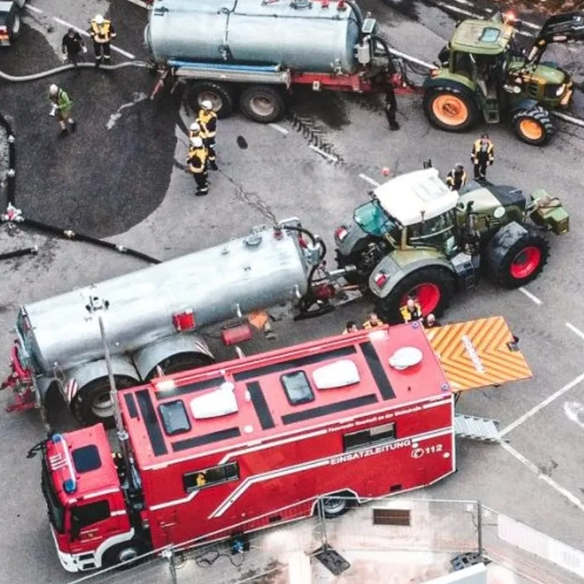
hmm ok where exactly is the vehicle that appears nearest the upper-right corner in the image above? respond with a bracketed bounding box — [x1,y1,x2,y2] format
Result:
[416,7,584,146]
